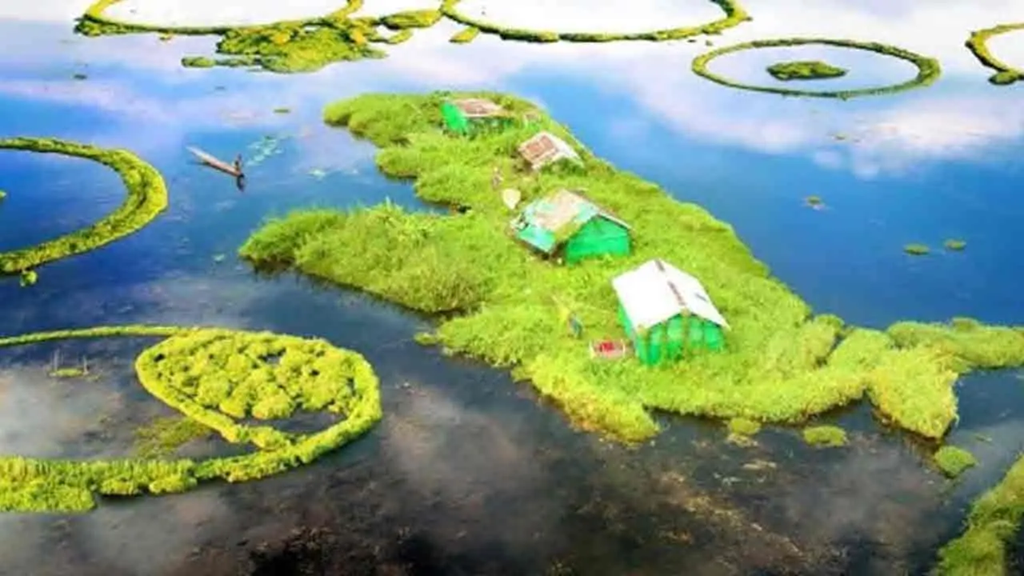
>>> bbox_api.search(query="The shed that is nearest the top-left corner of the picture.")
[439,94,514,137]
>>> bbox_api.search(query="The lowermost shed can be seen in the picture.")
[612,262,730,362]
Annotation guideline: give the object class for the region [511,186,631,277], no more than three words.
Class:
shed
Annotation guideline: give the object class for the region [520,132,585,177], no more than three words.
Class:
shed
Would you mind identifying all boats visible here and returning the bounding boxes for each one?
[186,141,243,175]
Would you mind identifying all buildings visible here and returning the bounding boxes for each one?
[511,186,631,277]
[612,262,730,362]
[439,94,514,137]
[520,132,585,177]
[525,110,540,125]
